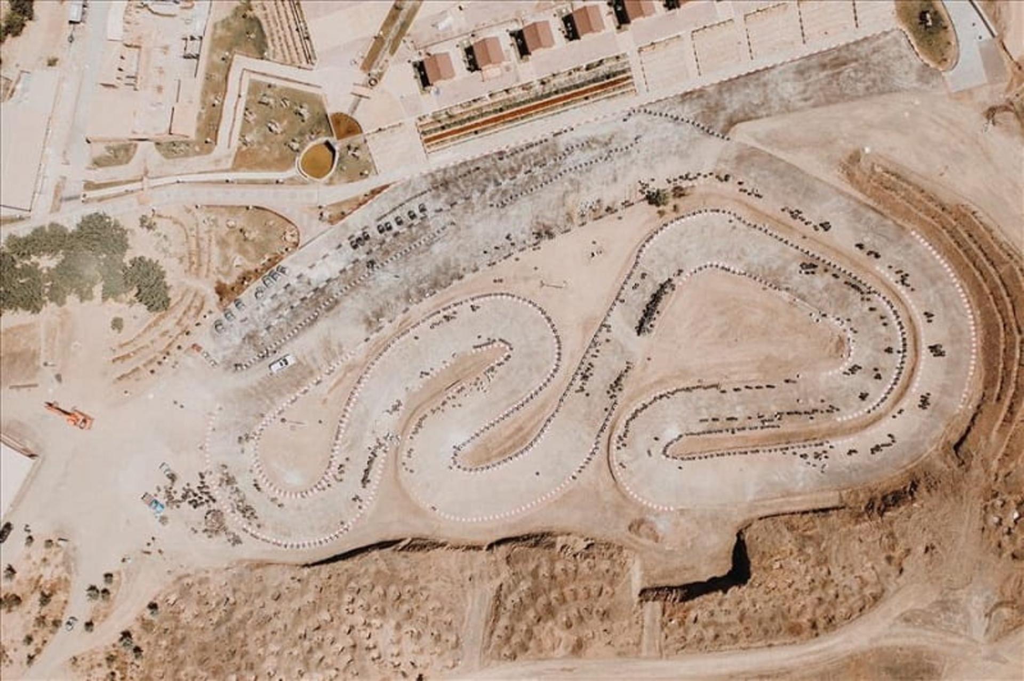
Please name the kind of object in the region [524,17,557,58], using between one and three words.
house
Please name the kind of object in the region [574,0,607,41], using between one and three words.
house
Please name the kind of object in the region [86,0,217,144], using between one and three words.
building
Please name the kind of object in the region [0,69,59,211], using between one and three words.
building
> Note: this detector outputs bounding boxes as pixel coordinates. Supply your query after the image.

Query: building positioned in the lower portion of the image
[0,436,43,528]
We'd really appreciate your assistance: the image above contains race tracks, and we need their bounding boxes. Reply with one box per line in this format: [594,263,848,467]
[205,29,976,549]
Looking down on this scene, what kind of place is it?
sports ground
